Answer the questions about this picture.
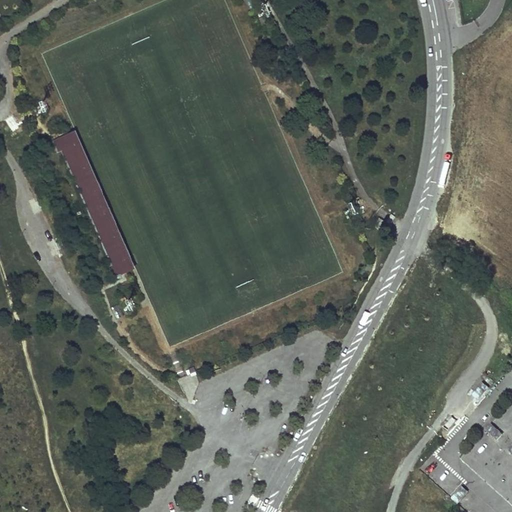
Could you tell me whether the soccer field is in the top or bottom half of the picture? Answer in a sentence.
Seen from above, the soccer field lies in the top half of the view.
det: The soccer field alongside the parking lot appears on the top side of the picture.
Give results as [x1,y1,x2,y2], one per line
[41,0,343,348]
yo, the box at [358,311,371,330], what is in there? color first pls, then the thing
white vehicle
